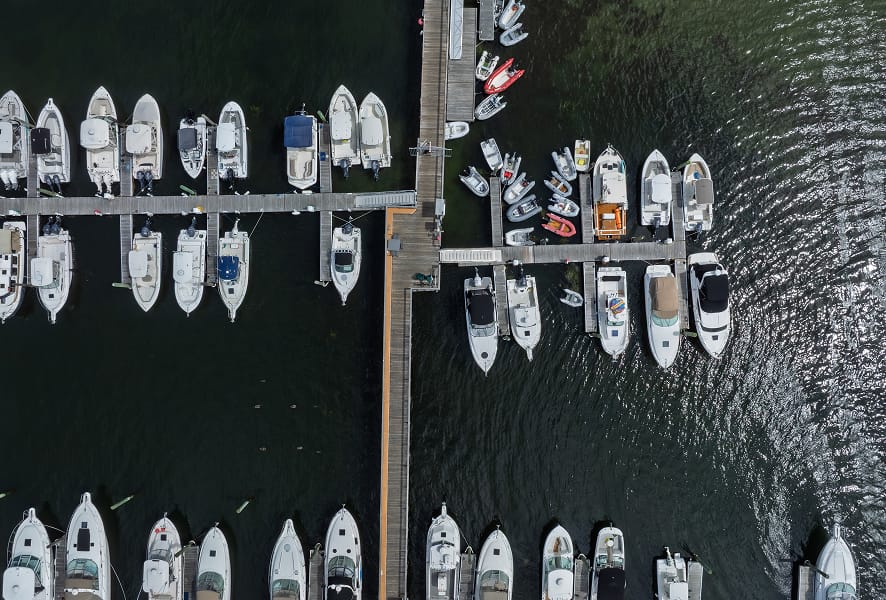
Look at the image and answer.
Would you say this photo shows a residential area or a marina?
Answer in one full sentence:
It's a marina.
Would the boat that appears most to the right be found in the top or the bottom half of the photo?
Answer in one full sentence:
You can find the boat that appears most to the right in the bottom half.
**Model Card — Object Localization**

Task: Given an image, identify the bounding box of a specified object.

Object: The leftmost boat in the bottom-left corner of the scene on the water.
[3,506,55,600]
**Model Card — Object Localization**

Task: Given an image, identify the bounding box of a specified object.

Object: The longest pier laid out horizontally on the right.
[459,240,686,265]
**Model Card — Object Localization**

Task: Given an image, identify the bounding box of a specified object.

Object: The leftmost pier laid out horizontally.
[0,194,363,216]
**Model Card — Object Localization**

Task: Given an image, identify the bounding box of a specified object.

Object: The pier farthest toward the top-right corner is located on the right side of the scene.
[670,171,684,241]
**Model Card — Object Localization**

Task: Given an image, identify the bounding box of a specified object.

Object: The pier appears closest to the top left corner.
[28,127,42,197]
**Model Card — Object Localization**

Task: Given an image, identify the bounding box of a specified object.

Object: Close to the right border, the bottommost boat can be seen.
[811,524,859,600]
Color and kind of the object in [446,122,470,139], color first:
white boat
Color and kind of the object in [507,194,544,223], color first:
gray boat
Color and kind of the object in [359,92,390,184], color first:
white boat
